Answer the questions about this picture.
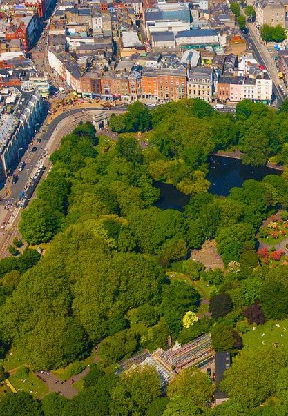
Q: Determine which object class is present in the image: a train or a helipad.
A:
train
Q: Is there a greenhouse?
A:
Yes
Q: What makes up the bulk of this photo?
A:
trees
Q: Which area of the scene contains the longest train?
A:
left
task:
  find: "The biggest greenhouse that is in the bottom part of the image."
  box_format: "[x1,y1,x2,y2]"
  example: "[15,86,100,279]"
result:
[119,335,214,391]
